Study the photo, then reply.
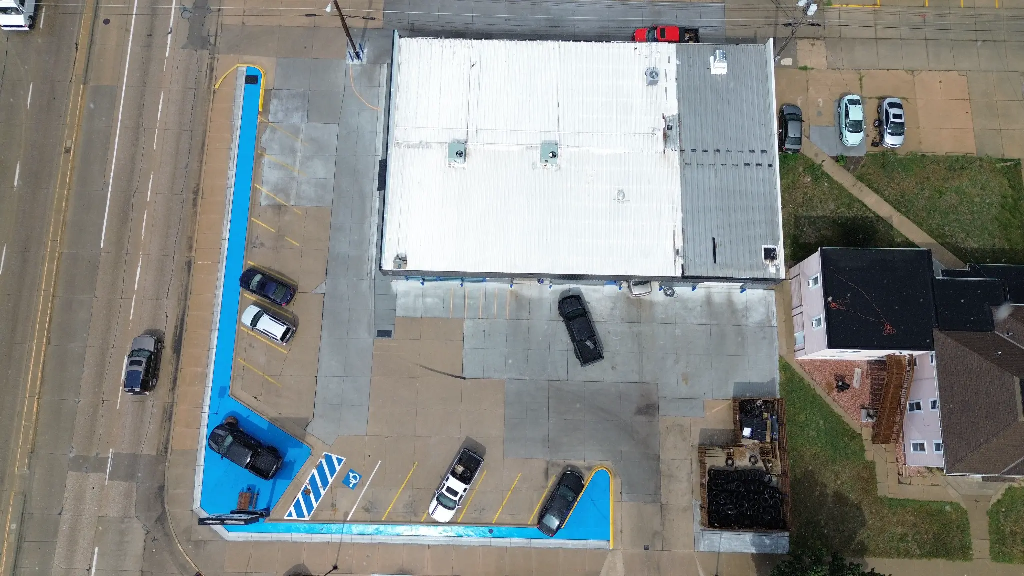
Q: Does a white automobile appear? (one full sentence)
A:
Yes, this view includes a white automobile.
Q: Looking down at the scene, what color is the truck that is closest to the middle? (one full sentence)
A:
The truck that is closest to the middle is black.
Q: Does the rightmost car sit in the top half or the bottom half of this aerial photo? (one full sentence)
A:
Seen from above, the rightmost car lies in the top half of the view.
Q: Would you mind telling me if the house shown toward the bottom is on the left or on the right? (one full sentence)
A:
The house shown toward the bottom is on the right side of the image.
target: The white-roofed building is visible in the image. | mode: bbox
[377,22,787,290]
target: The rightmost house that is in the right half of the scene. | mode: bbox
[789,249,1024,494]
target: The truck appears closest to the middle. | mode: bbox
[559,293,605,369]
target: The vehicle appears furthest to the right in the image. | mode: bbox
[880,96,910,150]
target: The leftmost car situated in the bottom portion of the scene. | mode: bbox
[121,333,159,395]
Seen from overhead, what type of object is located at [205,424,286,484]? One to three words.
truck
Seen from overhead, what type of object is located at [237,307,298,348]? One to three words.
car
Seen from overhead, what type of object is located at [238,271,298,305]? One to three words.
car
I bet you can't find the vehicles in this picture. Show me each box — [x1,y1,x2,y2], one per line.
[559,293,605,369]
[431,448,486,527]
[0,0,33,31]
[536,469,584,537]
[880,96,910,150]
[121,333,159,395]
[629,22,701,41]
[238,271,298,305]
[205,424,286,484]
[779,105,808,154]
[837,93,868,149]
[237,307,298,348]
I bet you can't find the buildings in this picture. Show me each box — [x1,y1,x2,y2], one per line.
[789,249,1024,494]
[377,22,787,290]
